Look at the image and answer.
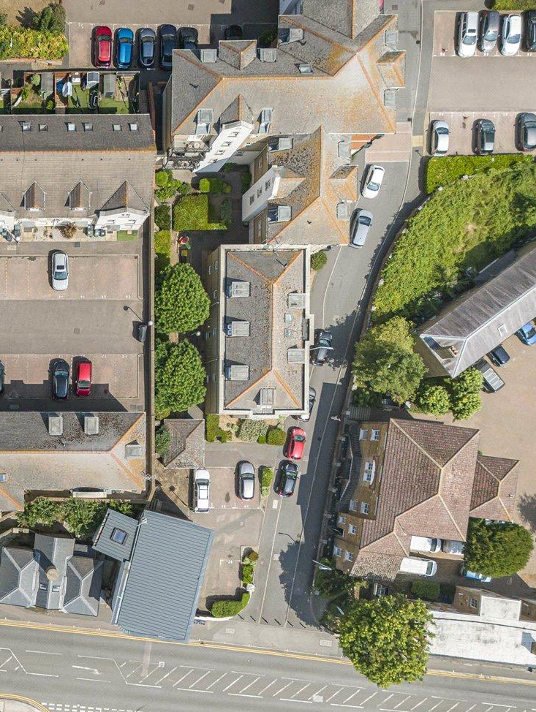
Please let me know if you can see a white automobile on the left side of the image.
Yes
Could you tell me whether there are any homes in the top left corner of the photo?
Yes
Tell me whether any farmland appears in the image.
No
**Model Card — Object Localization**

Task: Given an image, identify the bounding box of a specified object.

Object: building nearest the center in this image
[201,245,313,416]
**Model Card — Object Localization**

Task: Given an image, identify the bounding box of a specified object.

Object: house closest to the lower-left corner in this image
[0,531,103,616]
